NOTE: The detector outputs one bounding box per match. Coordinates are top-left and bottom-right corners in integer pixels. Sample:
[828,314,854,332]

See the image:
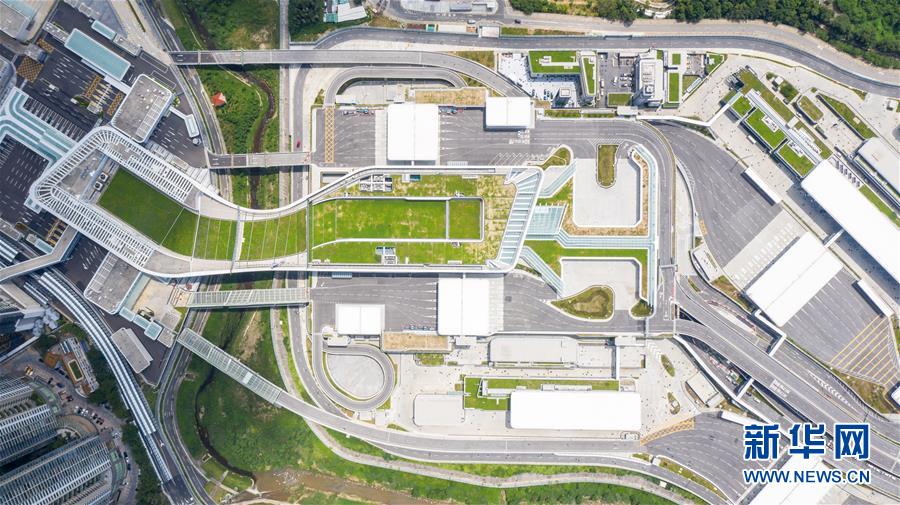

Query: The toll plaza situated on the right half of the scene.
[649,120,784,269]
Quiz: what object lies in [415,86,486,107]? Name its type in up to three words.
building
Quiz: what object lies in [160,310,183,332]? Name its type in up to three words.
building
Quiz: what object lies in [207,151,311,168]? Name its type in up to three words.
bridge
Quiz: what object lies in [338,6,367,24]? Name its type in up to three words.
shed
